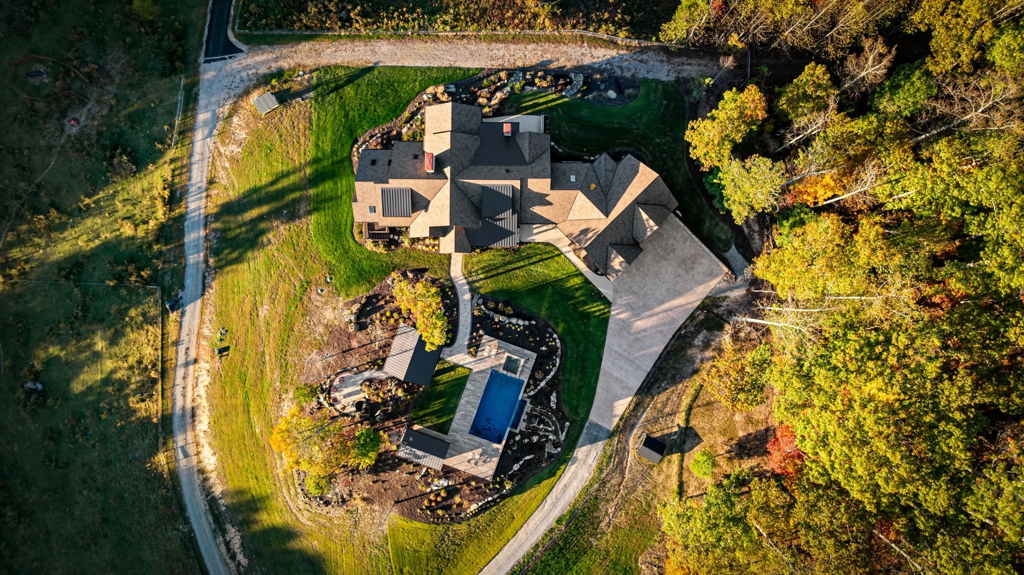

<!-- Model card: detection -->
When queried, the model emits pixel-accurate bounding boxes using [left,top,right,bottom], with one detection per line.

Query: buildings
[635,433,667,464]
[253,92,282,116]
[352,102,679,282]
[397,427,450,471]
[383,323,442,386]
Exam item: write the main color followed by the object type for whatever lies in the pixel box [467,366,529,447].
blue swimming pool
